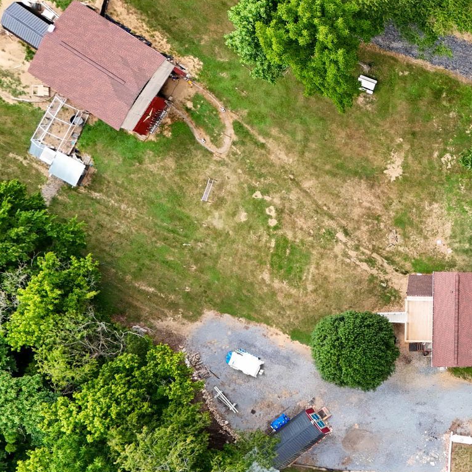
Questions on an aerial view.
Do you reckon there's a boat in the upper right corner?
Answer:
No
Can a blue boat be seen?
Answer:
No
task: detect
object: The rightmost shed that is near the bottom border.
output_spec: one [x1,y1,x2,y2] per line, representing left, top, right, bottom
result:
[268,405,333,470]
